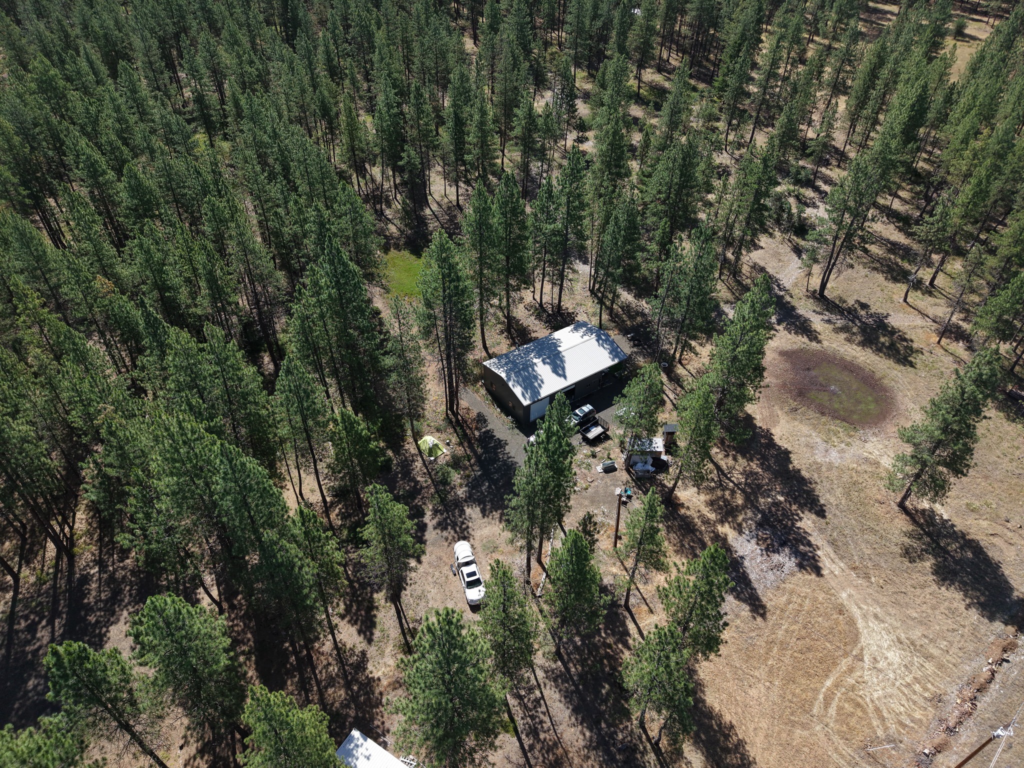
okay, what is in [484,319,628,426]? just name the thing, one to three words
building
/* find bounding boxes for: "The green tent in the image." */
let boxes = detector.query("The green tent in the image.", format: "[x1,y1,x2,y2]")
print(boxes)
[417,437,448,459]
